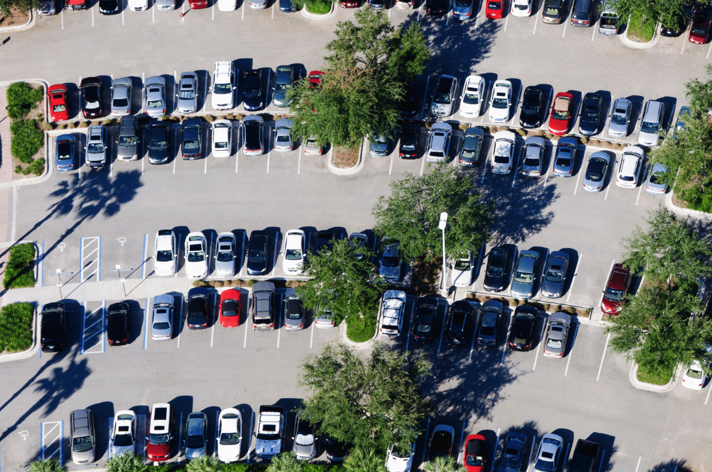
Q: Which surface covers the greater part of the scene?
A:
paved ground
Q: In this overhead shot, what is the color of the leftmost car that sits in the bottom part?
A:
black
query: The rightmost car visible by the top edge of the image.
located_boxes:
[688,8,712,49]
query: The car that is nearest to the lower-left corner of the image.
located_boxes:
[67,407,98,468]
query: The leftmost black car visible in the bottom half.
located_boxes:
[39,305,67,356]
